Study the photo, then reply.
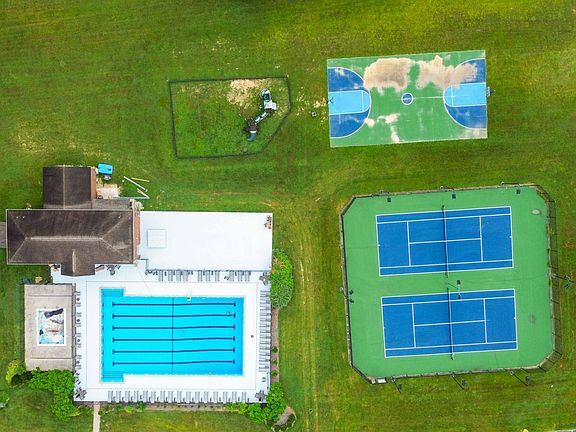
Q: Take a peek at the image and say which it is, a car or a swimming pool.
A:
swimming pool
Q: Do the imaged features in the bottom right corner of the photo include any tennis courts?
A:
Yes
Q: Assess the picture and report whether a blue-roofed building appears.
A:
No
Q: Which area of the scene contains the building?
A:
left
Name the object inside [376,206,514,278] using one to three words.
tennis court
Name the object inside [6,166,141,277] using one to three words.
building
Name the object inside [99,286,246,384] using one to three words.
swimming pool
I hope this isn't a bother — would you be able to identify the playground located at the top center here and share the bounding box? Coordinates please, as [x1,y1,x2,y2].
[243,91,277,144]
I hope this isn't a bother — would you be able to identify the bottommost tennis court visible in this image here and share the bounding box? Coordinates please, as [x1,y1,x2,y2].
[381,288,518,361]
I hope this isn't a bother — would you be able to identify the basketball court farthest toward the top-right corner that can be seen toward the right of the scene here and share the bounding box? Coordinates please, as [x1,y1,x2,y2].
[327,50,487,147]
